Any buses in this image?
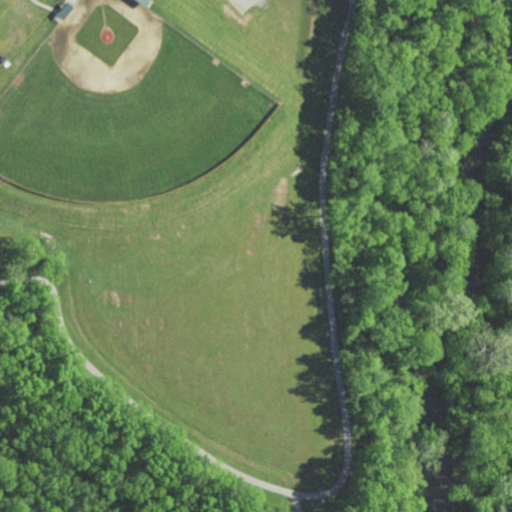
No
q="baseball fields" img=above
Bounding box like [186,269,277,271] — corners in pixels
[0,0,278,202]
